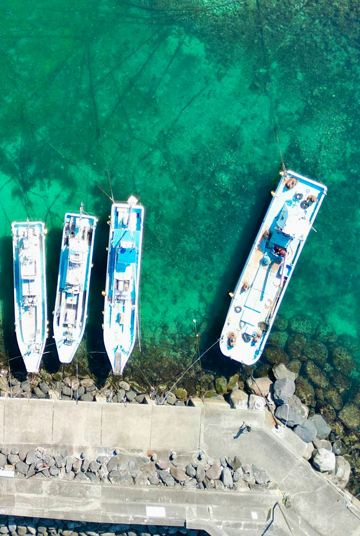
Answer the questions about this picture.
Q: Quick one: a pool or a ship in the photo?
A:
ship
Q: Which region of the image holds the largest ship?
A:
right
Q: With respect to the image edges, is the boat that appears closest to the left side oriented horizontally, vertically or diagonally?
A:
vertically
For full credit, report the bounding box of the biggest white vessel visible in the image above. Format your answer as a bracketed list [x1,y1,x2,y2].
[217,170,327,363]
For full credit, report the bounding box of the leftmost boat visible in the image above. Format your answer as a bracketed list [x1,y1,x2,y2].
[10,217,50,372]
